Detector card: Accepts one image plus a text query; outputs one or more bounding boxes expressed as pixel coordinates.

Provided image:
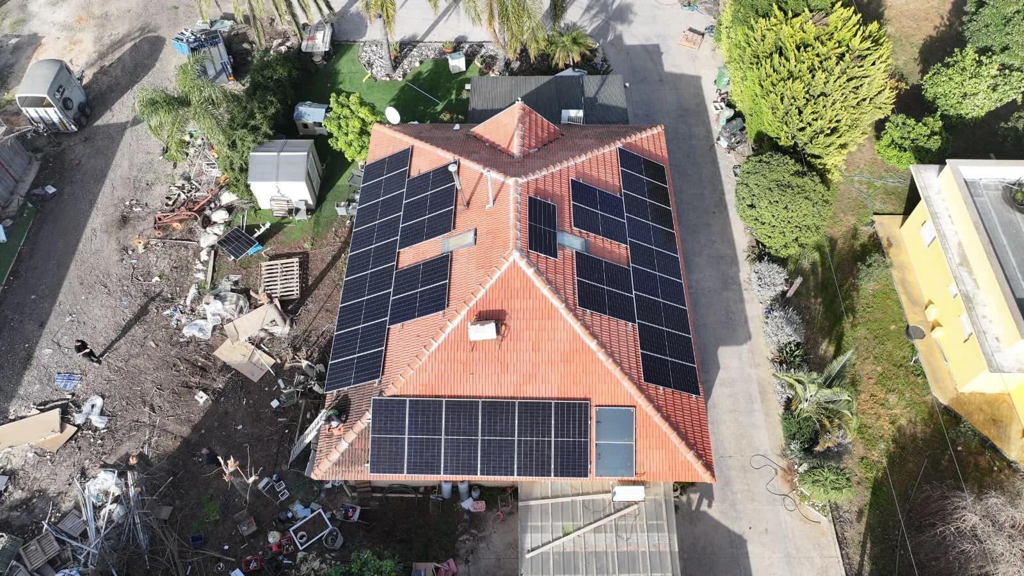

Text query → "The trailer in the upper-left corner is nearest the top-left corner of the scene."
[18,60,94,131]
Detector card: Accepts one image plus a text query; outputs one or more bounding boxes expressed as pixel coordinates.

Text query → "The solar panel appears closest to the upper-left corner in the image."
[218,227,258,260]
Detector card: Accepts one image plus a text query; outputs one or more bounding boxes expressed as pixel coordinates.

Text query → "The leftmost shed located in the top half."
[0,111,46,217]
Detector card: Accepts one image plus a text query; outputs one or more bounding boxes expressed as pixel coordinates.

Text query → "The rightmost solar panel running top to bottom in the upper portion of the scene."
[530,195,559,262]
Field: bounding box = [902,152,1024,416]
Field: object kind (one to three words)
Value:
house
